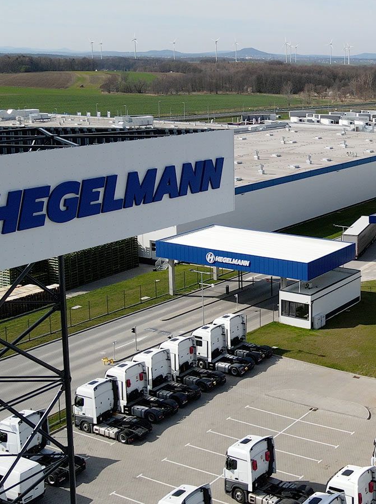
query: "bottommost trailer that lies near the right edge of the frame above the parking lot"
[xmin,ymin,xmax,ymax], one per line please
[343,214,376,259]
